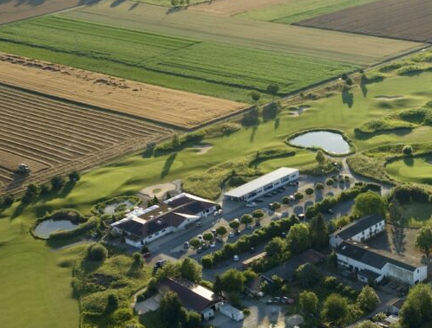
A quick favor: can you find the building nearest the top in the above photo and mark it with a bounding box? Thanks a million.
[222,166,300,203]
